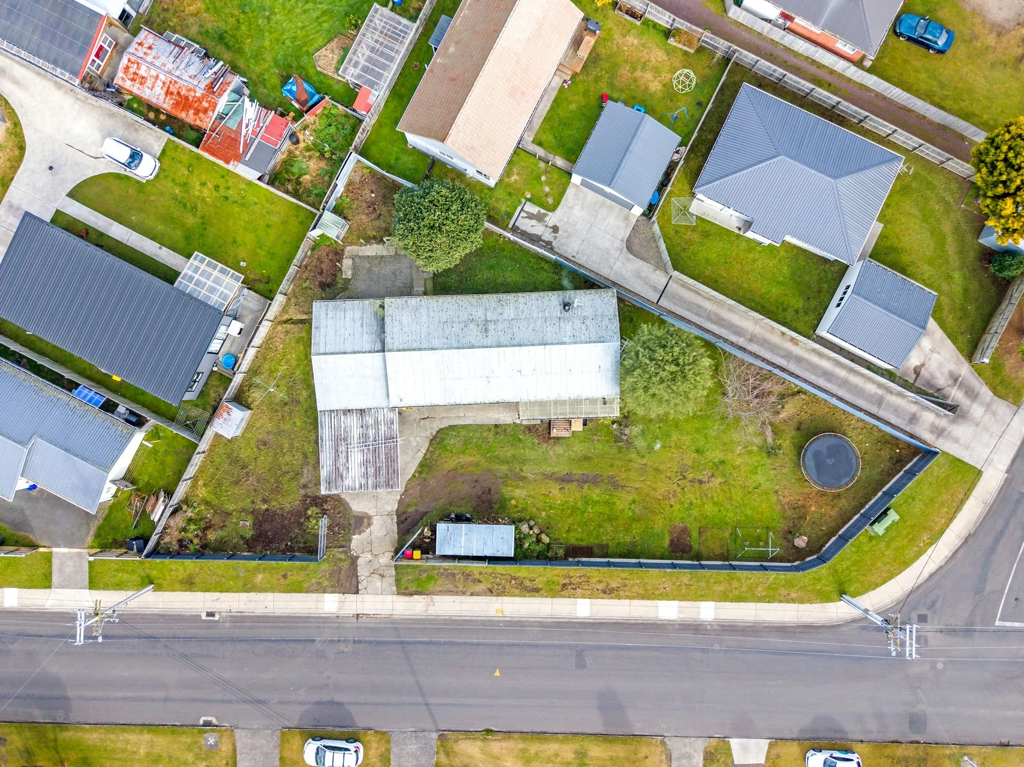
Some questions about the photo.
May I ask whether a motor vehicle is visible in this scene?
Yes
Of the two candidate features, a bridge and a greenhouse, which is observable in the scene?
greenhouse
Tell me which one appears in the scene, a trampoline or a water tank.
trampoline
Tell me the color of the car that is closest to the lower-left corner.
white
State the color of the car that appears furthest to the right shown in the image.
blue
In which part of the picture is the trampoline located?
right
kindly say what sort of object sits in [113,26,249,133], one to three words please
shed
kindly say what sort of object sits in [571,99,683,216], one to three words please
building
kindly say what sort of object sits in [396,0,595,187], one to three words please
house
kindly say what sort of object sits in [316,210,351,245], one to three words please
shed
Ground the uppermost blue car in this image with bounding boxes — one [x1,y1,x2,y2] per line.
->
[890,15,955,54]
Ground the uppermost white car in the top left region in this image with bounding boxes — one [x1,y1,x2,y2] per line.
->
[98,134,165,184]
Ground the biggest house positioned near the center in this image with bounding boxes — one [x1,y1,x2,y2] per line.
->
[311,288,621,494]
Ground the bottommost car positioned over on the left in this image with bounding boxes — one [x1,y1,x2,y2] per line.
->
[304,736,365,767]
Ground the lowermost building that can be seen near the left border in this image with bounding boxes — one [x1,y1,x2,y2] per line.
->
[0,349,155,515]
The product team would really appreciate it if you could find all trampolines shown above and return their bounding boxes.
[797,432,860,491]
